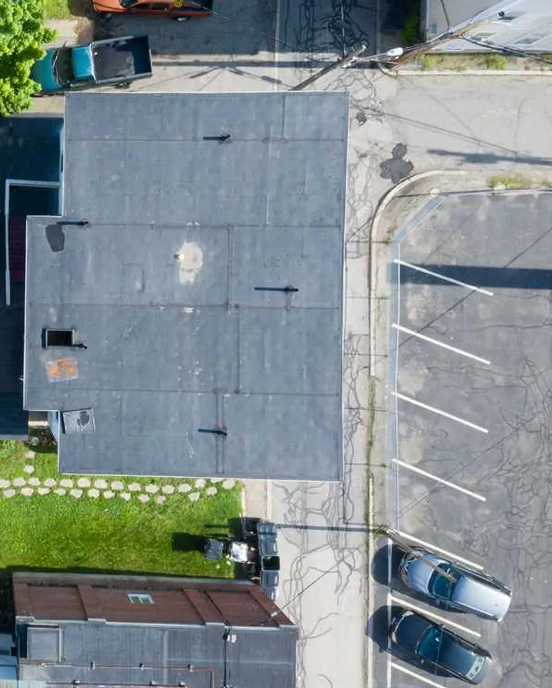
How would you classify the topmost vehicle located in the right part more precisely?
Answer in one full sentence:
Specifically, the topmost vehicle located in the right part is an automobile.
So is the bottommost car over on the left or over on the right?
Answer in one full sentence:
The bottommost car sits on the right side.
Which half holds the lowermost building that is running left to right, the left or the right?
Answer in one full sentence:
The lowermost building that is running left to right is on the left side of the image.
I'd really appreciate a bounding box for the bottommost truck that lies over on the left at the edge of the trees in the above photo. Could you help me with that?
[31,38,152,95]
